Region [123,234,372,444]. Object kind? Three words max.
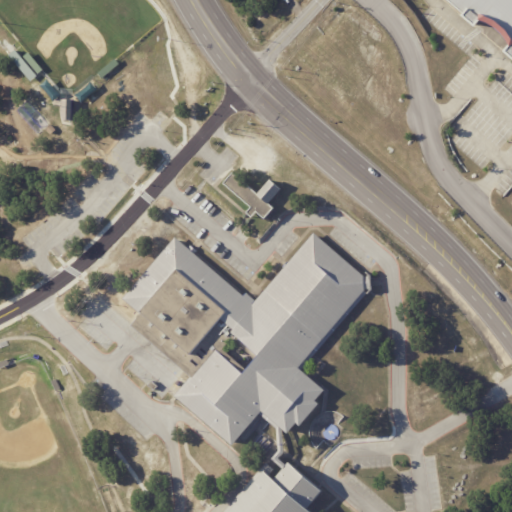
building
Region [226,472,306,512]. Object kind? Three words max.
building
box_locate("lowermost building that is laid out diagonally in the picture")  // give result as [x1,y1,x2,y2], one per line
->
[276,464,321,508]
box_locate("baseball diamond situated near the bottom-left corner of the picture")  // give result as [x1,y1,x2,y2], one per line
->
[0,358,107,512]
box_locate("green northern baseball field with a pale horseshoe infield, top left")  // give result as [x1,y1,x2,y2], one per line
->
[0,0,161,91]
